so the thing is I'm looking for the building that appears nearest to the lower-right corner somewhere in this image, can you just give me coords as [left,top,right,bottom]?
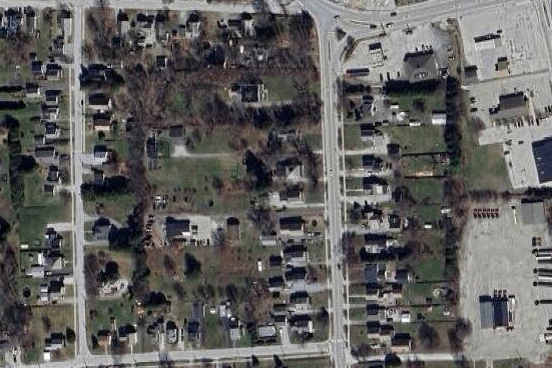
[480,296,509,328]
